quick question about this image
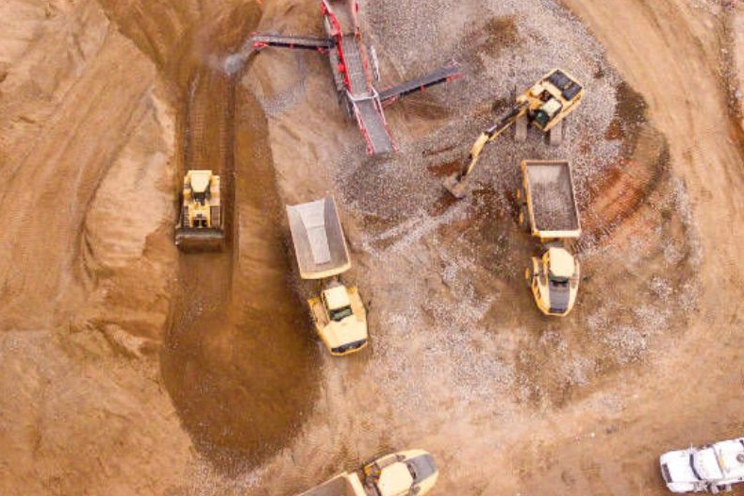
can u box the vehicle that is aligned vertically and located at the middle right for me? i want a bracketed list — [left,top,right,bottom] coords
[514,162,584,319]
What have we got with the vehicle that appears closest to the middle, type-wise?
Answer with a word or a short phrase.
truck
